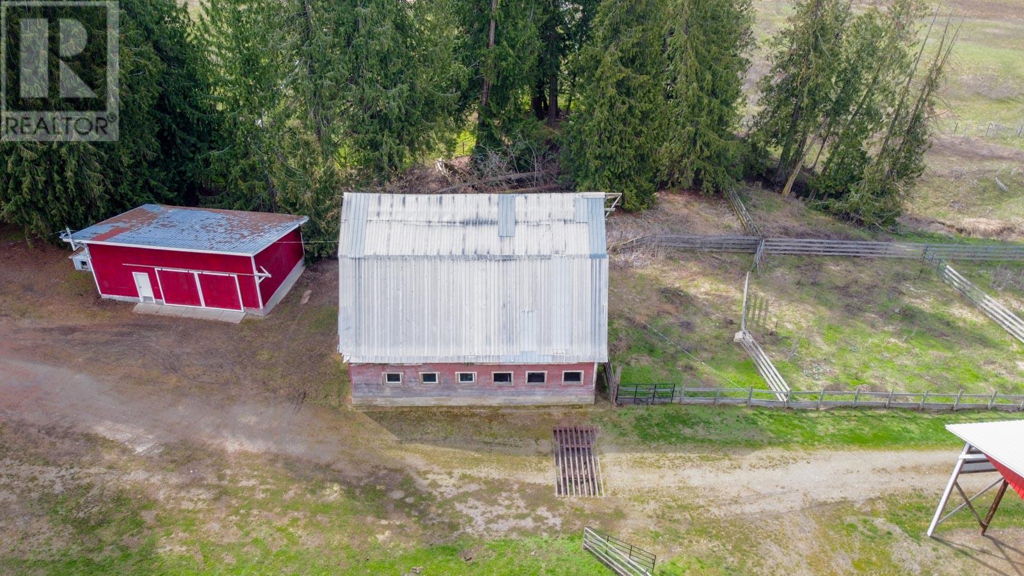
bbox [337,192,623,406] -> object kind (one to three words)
barn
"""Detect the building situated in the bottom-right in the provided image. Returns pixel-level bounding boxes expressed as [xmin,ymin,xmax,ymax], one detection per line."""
[927,423,1024,538]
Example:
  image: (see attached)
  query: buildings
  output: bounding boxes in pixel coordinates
[927,423,1024,538]
[62,207,311,316]
[337,192,623,406]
